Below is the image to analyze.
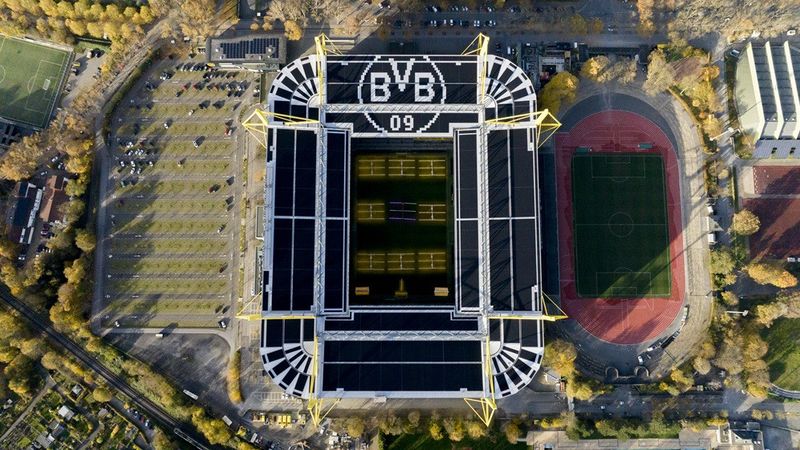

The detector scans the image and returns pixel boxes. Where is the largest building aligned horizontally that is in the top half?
[207,34,289,72]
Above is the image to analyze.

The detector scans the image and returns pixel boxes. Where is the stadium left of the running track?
[235,31,570,423]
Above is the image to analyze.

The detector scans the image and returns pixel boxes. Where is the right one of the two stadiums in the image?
[552,87,714,379]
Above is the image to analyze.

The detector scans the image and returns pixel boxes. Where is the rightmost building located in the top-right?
[731,41,800,159]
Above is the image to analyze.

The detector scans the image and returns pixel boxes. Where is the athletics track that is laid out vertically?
[574,110,686,345]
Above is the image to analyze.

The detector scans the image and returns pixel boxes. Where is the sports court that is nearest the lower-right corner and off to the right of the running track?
[742,198,800,260]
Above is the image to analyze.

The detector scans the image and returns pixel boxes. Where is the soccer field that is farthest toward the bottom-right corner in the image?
[573,154,671,298]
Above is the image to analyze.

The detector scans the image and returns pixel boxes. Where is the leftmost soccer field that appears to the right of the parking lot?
[350,145,454,309]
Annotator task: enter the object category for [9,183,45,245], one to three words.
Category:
building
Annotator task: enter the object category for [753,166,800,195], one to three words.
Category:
sports court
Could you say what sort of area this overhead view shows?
sports ground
